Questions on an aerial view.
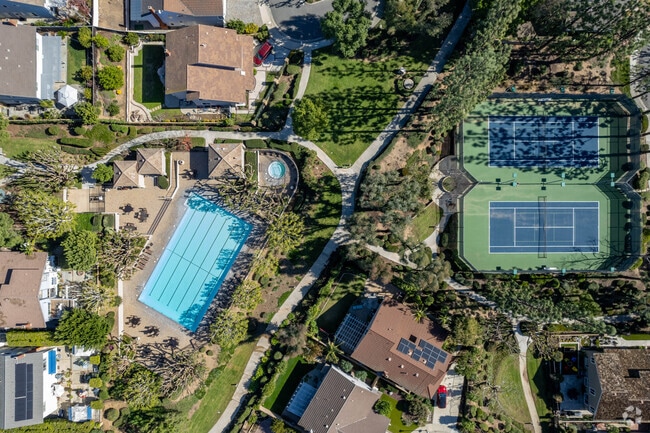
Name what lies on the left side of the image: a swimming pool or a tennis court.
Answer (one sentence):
The one visible on the left side of the image is a swimming pool.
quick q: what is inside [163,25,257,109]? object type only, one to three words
house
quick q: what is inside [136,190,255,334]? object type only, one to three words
swimming pool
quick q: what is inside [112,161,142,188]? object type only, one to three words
building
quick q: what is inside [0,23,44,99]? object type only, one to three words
house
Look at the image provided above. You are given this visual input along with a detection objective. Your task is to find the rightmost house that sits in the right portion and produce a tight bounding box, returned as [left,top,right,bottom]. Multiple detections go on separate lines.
[580,348,650,421]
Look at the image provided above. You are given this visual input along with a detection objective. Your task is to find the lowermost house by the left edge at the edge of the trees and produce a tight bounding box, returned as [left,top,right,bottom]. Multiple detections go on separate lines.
[0,347,57,429]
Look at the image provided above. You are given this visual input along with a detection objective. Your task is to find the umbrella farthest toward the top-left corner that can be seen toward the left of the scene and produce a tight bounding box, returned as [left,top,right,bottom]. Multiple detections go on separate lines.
[60,86,78,107]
